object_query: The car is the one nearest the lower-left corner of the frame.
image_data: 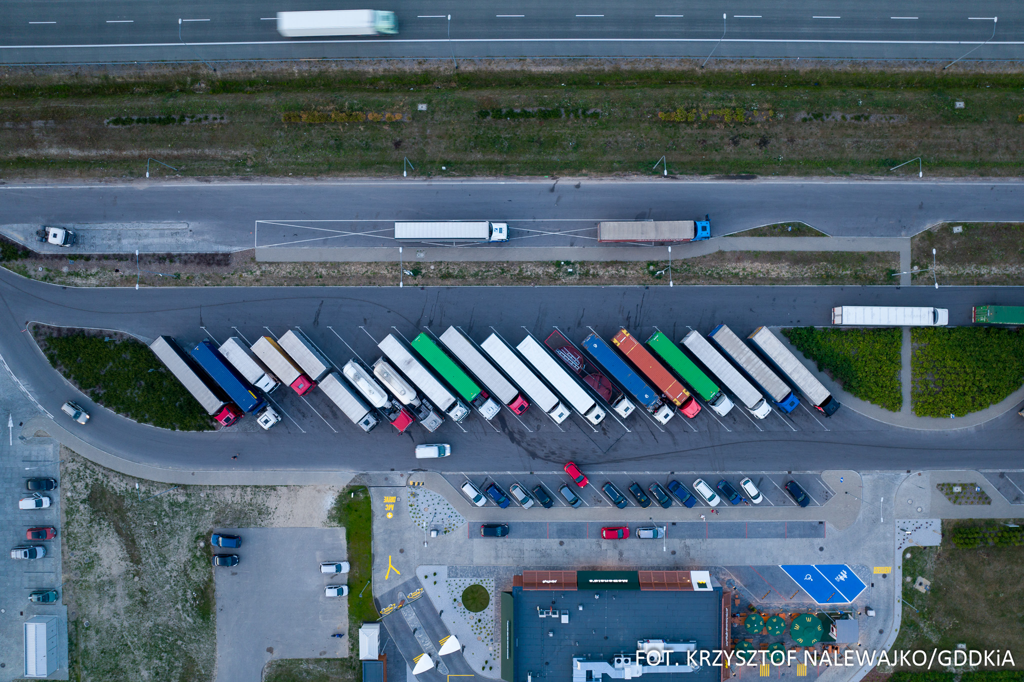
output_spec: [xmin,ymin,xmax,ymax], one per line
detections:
[28,588,60,604]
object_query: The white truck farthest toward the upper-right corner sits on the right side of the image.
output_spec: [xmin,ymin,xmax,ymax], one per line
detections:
[832,305,945,326]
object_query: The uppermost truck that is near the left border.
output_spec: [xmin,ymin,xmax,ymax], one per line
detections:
[37,225,80,247]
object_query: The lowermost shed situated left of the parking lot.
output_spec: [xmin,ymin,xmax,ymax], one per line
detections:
[24,616,58,677]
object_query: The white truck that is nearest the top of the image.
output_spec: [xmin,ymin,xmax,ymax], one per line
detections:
[277,9,399,39]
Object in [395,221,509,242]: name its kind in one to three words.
truck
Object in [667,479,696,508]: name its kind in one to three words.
car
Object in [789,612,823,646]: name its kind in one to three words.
umbrella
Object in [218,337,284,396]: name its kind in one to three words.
truck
